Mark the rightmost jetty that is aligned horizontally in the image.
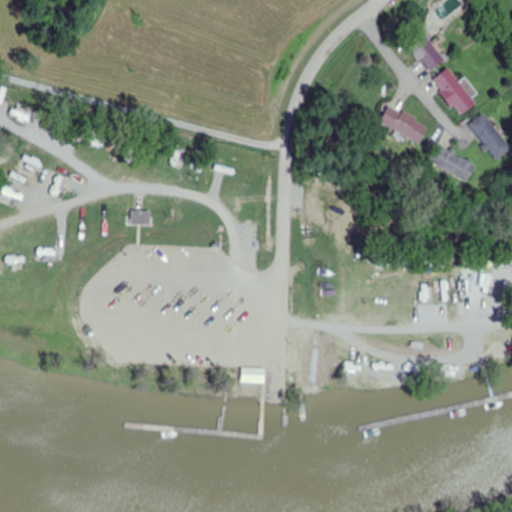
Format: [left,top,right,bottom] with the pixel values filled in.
[432,392,512,414]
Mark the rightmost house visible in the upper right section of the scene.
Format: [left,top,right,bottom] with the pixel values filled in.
[468,114,506,159]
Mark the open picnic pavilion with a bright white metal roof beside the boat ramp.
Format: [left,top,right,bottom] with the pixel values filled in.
[239,368,266,384]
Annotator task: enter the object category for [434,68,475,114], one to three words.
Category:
house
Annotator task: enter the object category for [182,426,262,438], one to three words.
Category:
pier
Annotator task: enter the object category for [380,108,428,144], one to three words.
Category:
house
